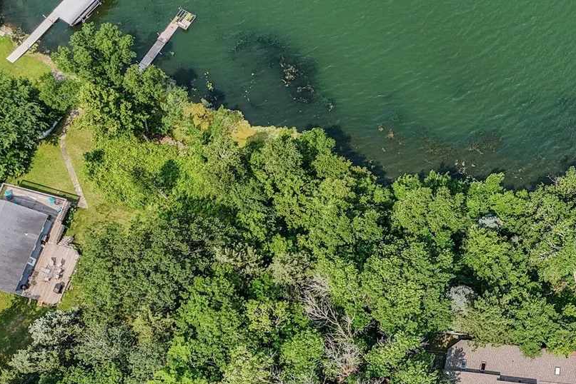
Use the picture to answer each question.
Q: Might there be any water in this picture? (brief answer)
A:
Yes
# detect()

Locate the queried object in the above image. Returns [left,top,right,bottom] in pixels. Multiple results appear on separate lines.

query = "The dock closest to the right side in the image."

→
[134,3,199,69]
